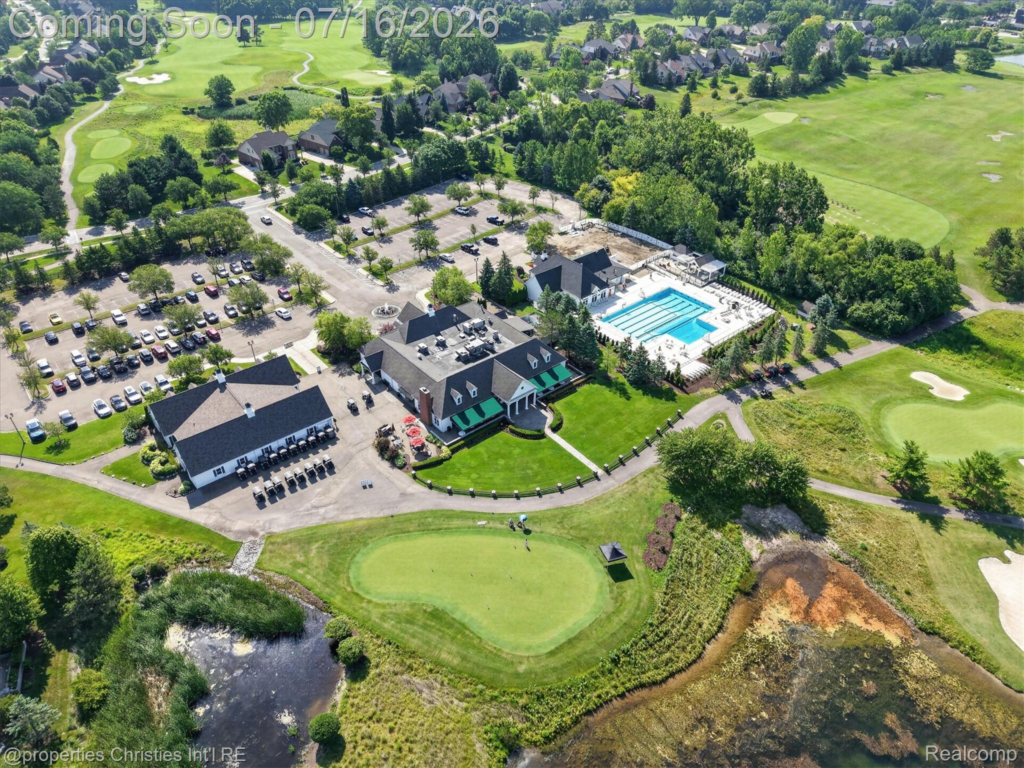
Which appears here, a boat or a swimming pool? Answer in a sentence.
Visible in the photo is a swimming pool.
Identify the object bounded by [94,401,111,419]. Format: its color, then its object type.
white car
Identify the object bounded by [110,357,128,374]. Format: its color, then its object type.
black vehicle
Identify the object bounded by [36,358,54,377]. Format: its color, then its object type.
white vehicle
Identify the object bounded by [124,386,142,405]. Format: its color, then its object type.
white car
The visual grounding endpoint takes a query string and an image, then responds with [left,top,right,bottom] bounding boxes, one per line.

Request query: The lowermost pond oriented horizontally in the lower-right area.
[494,542,1024,768]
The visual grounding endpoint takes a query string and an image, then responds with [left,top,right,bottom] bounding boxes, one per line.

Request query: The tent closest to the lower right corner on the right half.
[599,540,632,571]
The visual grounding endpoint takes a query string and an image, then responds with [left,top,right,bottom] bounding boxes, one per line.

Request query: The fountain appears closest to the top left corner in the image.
[371,303,401,320]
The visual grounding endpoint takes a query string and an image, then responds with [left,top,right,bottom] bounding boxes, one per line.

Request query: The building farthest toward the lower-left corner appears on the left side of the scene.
[146,353,335,488]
